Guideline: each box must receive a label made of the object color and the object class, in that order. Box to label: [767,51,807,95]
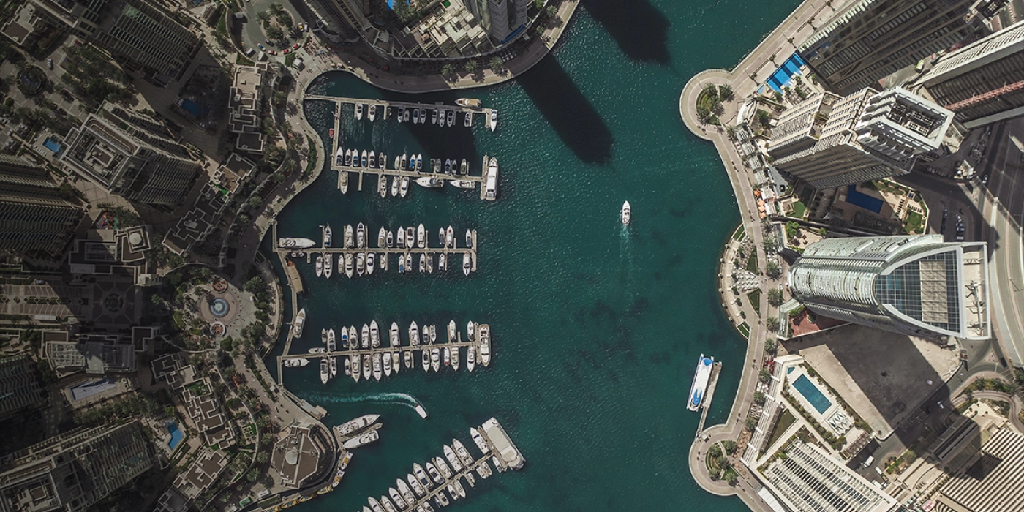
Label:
blue swimming pool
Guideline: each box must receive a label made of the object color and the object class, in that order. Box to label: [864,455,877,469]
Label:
white vehicle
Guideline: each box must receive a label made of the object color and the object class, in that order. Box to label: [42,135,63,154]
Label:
blue swimming pool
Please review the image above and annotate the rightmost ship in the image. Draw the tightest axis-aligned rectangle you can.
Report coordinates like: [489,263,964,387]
[687,355,713,410]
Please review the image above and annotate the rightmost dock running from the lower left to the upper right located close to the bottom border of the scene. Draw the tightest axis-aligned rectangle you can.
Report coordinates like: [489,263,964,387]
[391,427,506,512]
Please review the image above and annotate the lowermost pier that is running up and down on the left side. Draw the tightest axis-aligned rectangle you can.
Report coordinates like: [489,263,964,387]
[275,252,298,356]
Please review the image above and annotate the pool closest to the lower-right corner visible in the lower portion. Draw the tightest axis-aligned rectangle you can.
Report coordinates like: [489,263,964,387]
[792,372,834,416]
